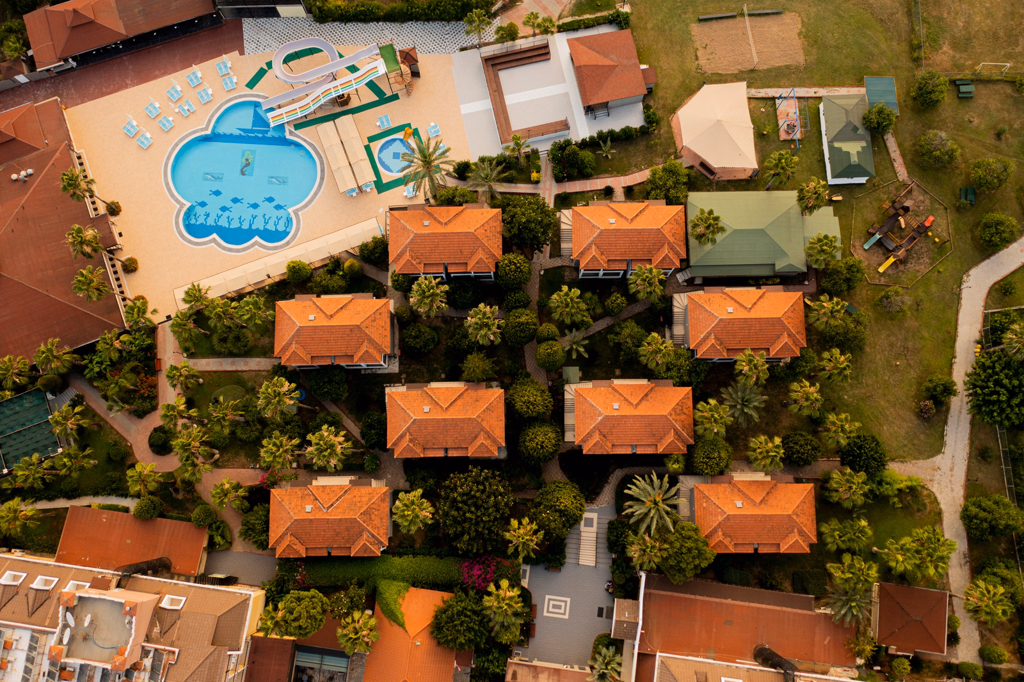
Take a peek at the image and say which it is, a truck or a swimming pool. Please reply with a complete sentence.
Visible in the photo is a swimming pool.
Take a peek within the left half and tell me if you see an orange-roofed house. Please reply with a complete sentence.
Yes, an orange-roofed house is visible within the left half.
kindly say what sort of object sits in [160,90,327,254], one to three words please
swimming pool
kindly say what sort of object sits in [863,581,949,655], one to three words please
building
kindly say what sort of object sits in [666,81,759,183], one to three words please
tent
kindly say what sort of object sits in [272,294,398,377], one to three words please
house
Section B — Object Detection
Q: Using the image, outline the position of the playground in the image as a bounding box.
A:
[861,181,950,273]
